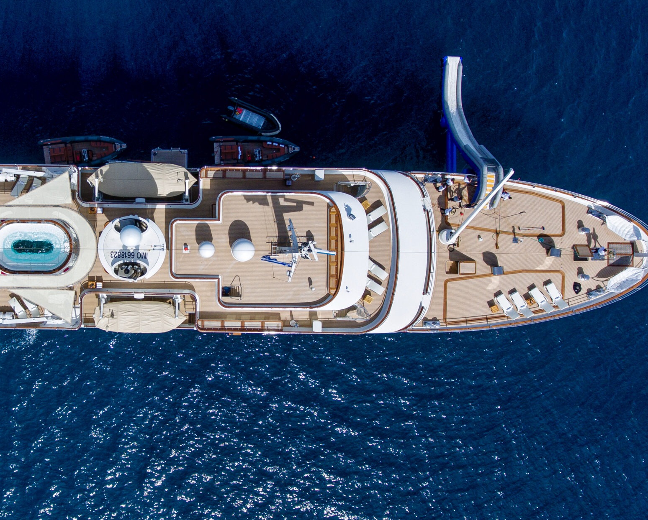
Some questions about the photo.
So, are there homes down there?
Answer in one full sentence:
No, the picture doesn't show any home.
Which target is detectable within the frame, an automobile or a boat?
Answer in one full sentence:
It is a boat that can be seen here.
